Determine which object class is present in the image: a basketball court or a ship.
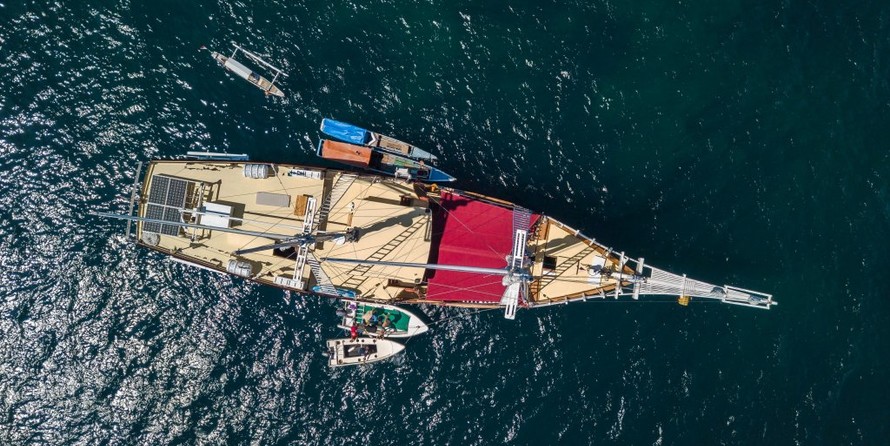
ship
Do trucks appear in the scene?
No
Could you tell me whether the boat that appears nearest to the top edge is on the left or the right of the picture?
left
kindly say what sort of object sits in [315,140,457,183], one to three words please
boat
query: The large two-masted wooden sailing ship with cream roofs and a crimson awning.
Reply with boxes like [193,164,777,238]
[89,158,778,320]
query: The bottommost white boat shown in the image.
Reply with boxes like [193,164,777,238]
[321,338,407,367]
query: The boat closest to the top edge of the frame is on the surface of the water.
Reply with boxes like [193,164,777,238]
[203,43,289,97]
